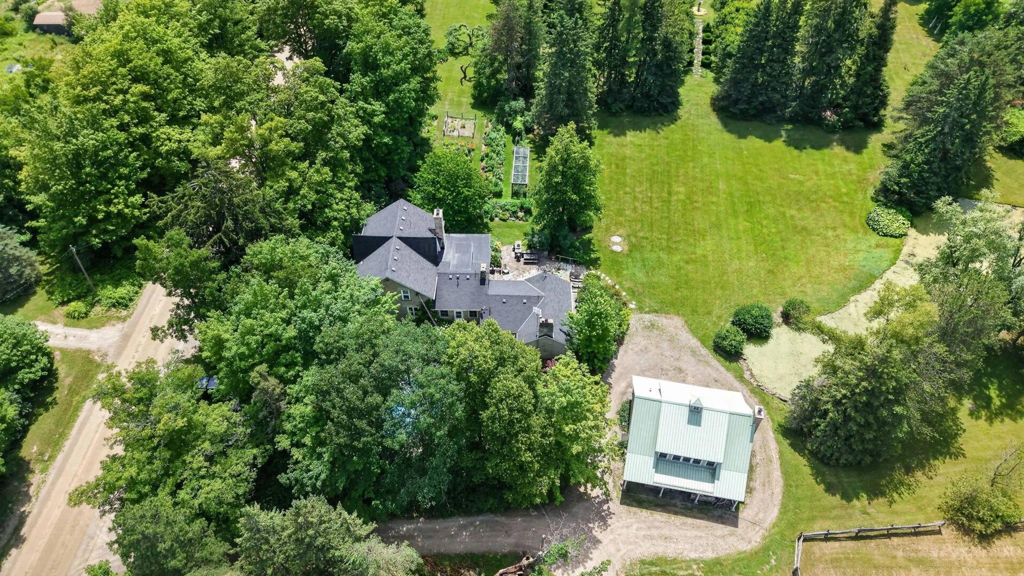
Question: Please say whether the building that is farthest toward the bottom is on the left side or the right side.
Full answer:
The building that is farthest toward the bottom is on the right side of the image.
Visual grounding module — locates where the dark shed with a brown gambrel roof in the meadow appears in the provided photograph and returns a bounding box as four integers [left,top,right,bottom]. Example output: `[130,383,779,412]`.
[30,10,93,39]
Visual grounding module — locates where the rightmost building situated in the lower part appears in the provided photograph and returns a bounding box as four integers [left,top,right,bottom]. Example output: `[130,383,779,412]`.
[622,375,762,513]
